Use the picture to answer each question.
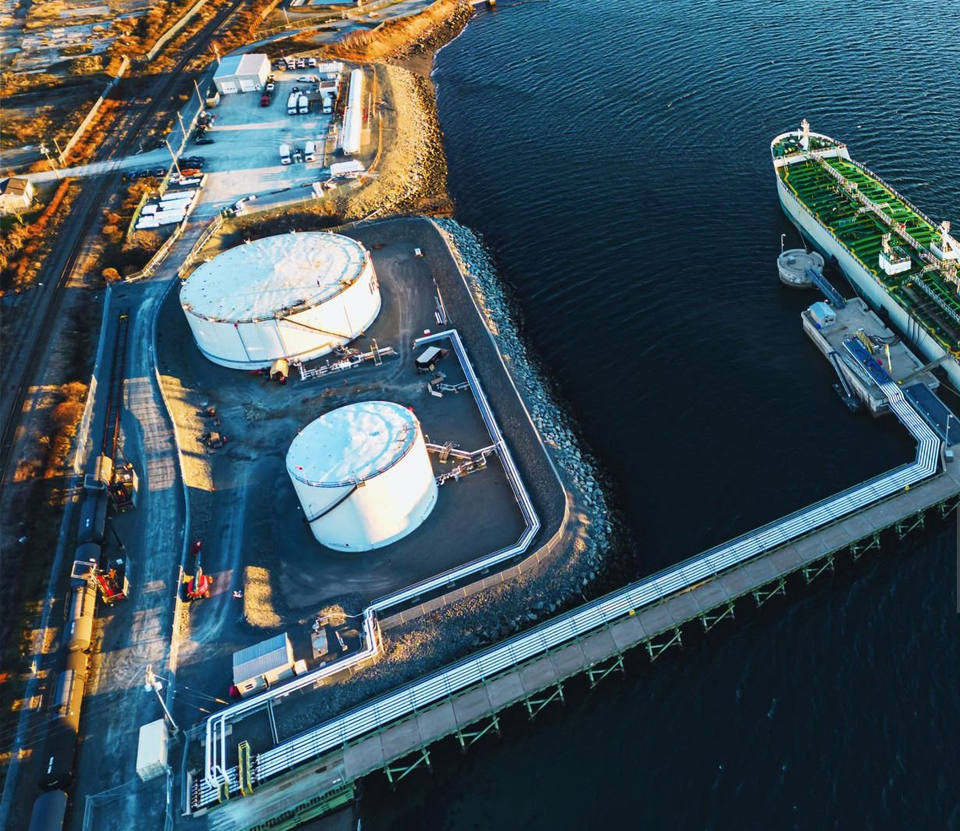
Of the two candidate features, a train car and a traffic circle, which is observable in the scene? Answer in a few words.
train car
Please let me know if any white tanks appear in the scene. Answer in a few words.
Yes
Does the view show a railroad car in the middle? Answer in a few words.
No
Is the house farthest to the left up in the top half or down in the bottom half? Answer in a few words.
top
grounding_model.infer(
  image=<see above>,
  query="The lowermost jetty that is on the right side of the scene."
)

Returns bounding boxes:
[322,440,960,788]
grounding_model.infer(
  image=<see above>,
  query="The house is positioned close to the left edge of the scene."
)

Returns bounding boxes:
[0,177,41,209]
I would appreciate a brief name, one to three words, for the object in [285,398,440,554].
storage tank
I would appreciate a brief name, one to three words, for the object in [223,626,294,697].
shed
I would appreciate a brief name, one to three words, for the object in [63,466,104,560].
rail car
